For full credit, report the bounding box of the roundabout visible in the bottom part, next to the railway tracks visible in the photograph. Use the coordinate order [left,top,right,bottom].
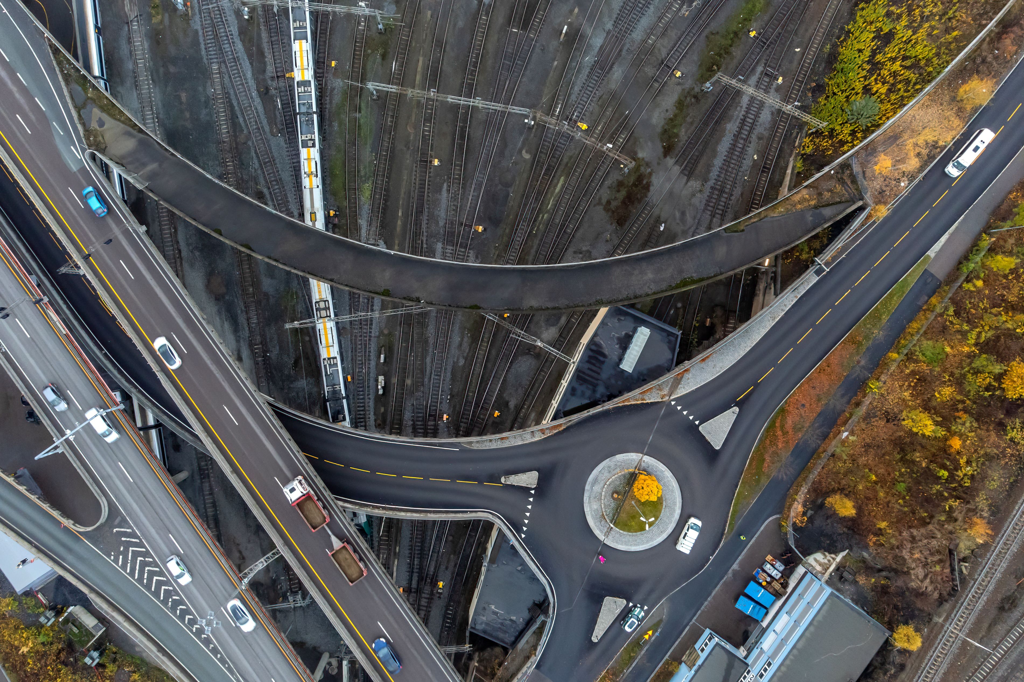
[432,388,755,682]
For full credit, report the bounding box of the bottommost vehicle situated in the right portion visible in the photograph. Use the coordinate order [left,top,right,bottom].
[623,607,645,635]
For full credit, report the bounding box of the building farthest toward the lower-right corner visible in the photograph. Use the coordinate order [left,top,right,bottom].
[737,572,891,682]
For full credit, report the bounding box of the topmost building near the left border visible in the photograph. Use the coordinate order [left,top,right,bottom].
[0,534,55,597]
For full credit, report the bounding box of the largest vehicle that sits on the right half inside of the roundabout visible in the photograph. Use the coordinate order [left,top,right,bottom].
[677,517,703,555]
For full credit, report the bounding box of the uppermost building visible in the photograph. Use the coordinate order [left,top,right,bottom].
[543,305,682,423]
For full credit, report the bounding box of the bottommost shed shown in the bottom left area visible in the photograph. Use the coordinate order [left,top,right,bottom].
[59,600,112,649]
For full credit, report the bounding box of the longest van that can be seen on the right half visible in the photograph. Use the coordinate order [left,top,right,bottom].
[938,126,996,180]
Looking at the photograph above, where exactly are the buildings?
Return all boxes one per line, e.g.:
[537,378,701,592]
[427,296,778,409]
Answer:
[0,534,55,597]
[543,305,682,423]
[469,527,548,648]
[59,600,112,649]
[737,572,891,682]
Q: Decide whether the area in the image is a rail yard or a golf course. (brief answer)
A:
rail yard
